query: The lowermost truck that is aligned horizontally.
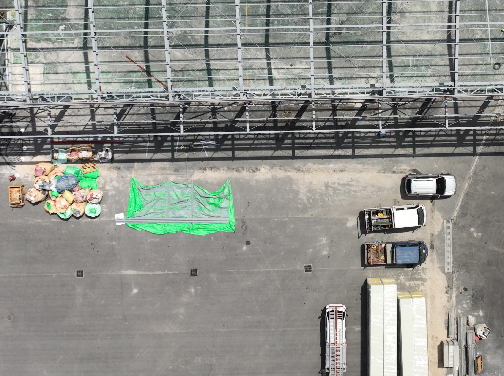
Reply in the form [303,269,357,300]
[364,239,428,267]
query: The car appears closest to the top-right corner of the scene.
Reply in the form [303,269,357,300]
[403,172,456,200]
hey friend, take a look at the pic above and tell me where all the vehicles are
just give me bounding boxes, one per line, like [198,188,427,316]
[364,239,428,267]
[403,172,456,200]
[362,202,427,235]
[322,304,349,376]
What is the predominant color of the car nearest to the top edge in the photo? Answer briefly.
white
